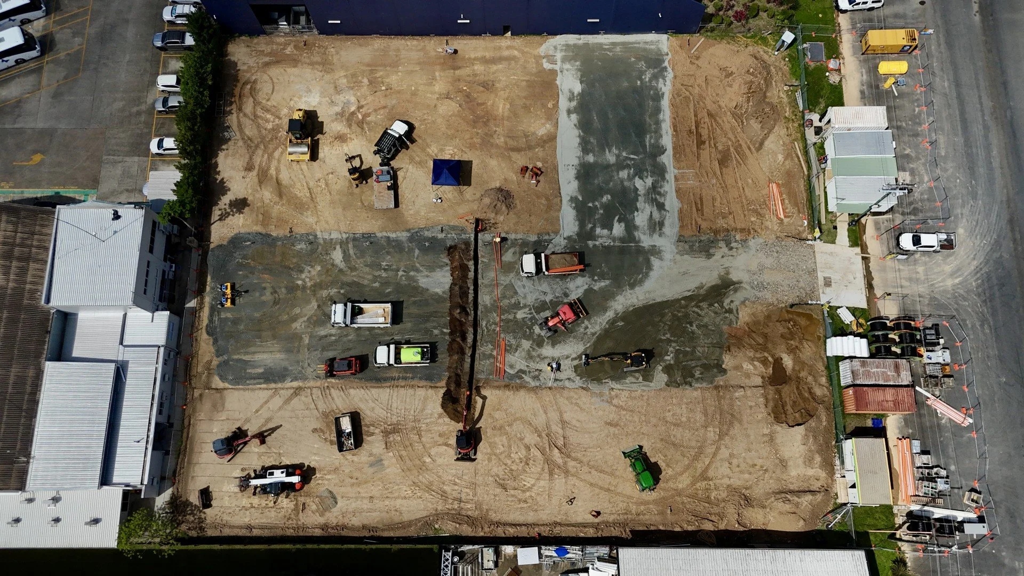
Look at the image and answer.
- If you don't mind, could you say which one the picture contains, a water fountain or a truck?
truck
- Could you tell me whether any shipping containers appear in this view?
Yes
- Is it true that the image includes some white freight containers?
Yes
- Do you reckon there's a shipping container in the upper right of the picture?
Yes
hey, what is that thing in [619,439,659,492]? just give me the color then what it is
green work vehicle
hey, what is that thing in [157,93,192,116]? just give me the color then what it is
gray car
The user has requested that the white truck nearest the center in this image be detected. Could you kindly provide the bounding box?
[521,248,585,277]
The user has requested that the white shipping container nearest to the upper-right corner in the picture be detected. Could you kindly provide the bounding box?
[815,101,890,141]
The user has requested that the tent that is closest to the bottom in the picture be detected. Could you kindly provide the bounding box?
[516,546,539,566]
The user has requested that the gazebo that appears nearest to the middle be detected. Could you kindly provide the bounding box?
[432,159,461,194]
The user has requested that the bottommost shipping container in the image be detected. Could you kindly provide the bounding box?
[843,387,918,413]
